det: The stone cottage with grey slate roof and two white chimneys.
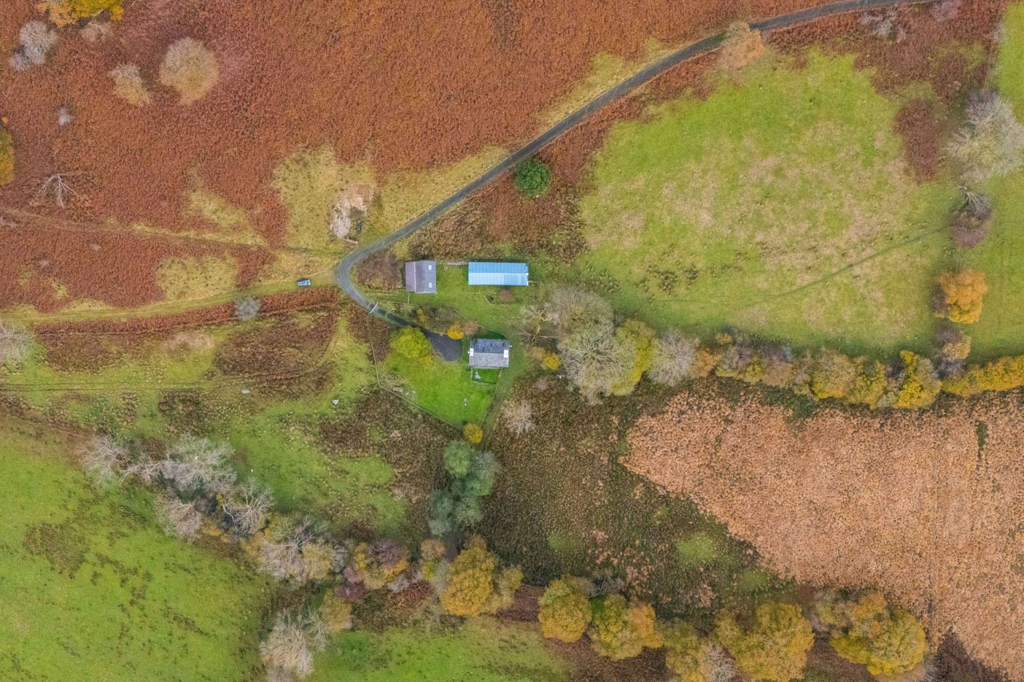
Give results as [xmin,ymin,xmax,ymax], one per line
[469,339,511,369]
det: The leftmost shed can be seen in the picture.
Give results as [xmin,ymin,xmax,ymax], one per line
[406,260,437,294]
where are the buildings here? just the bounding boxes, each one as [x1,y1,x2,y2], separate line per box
[469,339,511,369]
[468,262,529,287]
[406,260,437,294]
